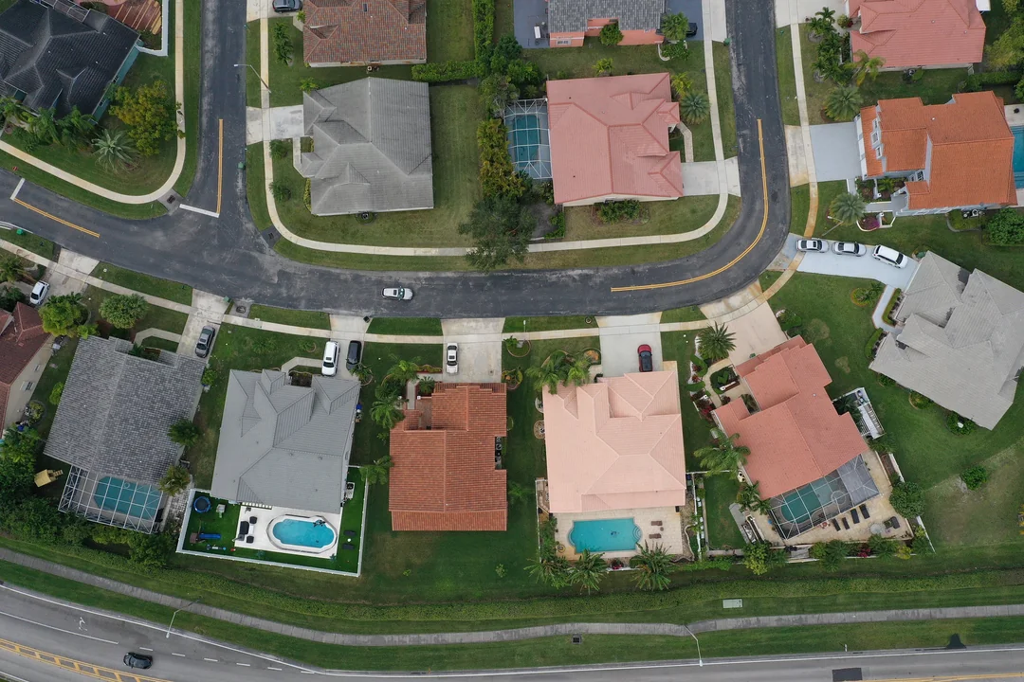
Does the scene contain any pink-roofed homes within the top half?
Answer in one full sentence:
Yes, the scene does show a pink-roofed home within the top half.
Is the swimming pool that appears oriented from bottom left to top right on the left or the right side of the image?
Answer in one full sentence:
The swimming pool that appears oriented from bottom left to top right appears in the right half of the scene.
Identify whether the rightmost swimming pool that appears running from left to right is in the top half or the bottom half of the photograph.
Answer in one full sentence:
Seen from above, the rightmost swimming pool that appears running from left to right lies in the bottom half of the view.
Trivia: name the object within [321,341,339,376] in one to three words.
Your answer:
vehicle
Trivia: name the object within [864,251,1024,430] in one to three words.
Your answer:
house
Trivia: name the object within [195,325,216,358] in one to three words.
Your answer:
car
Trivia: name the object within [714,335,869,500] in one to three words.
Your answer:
house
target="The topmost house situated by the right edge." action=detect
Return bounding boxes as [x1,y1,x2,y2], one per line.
[846,0,986,71]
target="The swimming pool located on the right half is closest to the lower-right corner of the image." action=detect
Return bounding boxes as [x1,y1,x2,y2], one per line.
[777,479,840,527]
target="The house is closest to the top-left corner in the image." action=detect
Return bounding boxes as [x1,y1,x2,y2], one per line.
[0,0,143,126]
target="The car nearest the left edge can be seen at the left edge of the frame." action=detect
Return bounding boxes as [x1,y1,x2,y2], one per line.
[29,278,51,307]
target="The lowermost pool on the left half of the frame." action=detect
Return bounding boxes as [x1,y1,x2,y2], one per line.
[267,513,341,554]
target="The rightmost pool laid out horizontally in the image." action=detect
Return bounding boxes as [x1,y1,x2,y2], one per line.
[565,515,646,556]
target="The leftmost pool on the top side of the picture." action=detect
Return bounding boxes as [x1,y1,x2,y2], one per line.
[513,111,543,169]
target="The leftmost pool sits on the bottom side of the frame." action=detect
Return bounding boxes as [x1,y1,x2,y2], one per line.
[91,475,165,522]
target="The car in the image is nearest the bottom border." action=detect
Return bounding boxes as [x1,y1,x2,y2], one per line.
[122,651,155,669]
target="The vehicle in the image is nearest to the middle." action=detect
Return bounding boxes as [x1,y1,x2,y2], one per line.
[444,343,458,374]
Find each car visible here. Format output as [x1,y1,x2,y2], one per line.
[638,344,652,372]
[381,286,414,301]
[270,0,301,12]
[122,651,155,669]
[444,343,458,374]
[345,341,362,370]
[833,242,865,256]
[872,244,907,267]
[29,278,51,307]
[797,238,828,252]
[195,325,216,358]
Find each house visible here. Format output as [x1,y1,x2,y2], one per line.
[542,371,686,512]
[0,302,54,440]
[211,369,361,514]
[855,91,1018,216]
[864,251,1024,430]
[714,335,869,500]
[0,0,143,126]
[301,76,434,216]
[846,0,986,71]
[547,72,684,205]
[303,0,427,68]
[43,336,210,487]
[388,382,507,531]
[548,0,662,42]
